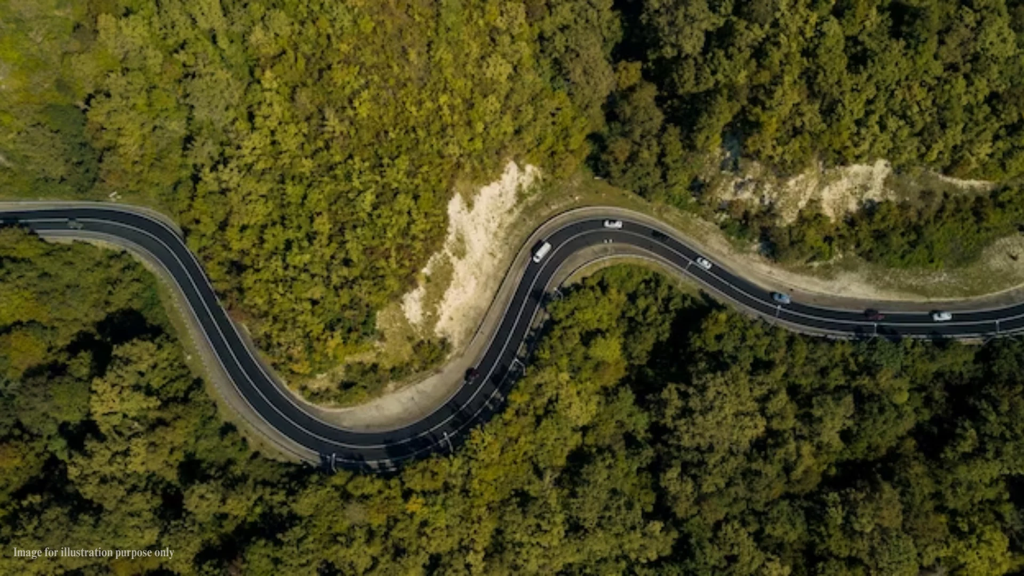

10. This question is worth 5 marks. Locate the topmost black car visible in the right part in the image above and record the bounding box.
[653,230,672,243]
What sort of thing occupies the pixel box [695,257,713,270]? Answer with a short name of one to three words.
vehicle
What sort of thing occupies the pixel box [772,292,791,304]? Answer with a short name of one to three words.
vehicle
